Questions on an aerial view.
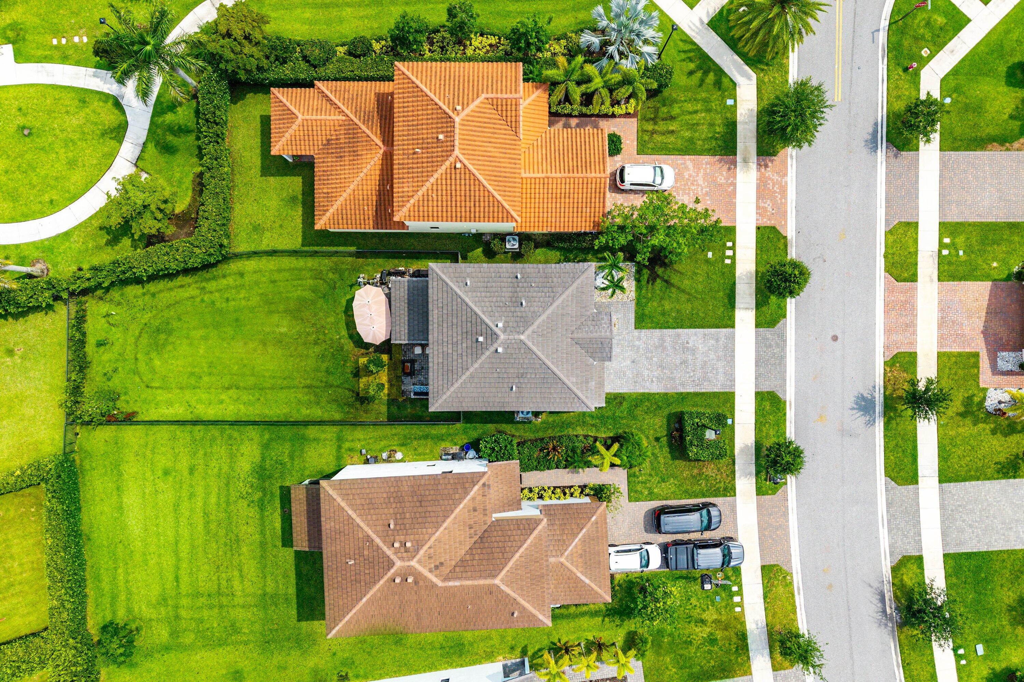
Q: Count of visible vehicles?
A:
4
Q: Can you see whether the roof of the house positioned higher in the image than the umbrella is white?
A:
No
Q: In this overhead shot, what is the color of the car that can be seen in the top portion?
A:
white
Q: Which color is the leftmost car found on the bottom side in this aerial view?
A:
white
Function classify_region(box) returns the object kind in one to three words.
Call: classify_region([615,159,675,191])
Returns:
car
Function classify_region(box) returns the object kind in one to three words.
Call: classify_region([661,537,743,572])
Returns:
truck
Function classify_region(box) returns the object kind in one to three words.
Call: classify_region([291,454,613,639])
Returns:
house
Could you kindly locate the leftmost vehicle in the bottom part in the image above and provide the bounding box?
[609,540,661,574]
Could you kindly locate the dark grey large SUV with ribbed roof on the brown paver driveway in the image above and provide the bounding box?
[651,502,721,536]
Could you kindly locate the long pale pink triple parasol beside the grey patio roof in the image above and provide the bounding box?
[353,285,391,344]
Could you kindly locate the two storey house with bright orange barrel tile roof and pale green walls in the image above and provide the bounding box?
[269,59,613,233]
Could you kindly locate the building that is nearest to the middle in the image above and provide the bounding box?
[391,262,615,412]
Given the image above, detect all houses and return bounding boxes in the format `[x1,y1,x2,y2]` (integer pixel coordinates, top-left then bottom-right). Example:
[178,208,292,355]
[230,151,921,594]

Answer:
[377,663,504,682]
[291,454,613,639]
[269,59,613,233]
[391,262,615,412]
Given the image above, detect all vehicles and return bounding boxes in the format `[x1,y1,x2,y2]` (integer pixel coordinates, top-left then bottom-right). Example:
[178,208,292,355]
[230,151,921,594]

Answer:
[615,159,675,191]
[651,502,721,536]
[609,540,661,574]
[661,537,743,572]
